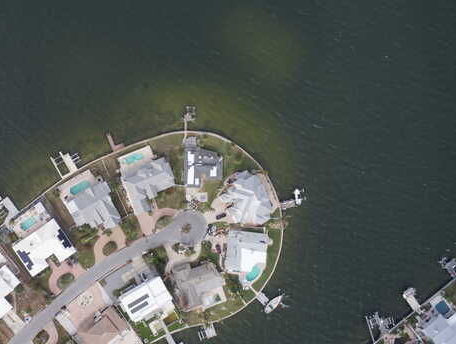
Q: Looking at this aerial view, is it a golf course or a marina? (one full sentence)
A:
The picture captures a marina.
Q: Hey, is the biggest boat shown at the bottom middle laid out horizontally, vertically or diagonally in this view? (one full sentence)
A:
In this picture, the biggest boat shown at the bottom middle lies diagonally.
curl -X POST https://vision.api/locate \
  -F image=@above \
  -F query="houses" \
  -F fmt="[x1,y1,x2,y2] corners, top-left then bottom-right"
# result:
[120,275,174,323]
[423,312,456,344]
[222,171,271,230]
[77,306,133,344]
[226,230,268,273]
[68,181,120,235]
[124,158,177,215]
[13,219,76,277]
[173,263,225,311]
[0,265,21,319]
[185,148,222,186]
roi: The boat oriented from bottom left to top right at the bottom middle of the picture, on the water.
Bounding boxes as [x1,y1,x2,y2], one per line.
[264,295,284,315]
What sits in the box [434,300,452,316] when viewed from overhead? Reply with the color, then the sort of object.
blue swimming pool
